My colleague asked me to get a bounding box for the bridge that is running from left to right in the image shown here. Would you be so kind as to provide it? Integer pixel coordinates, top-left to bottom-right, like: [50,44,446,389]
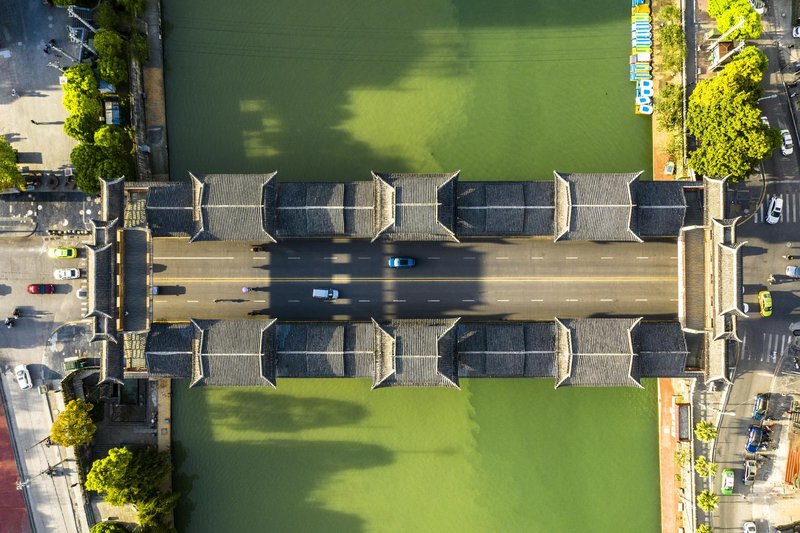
[127,187,702,371]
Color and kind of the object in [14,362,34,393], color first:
white car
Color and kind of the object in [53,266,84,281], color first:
white car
